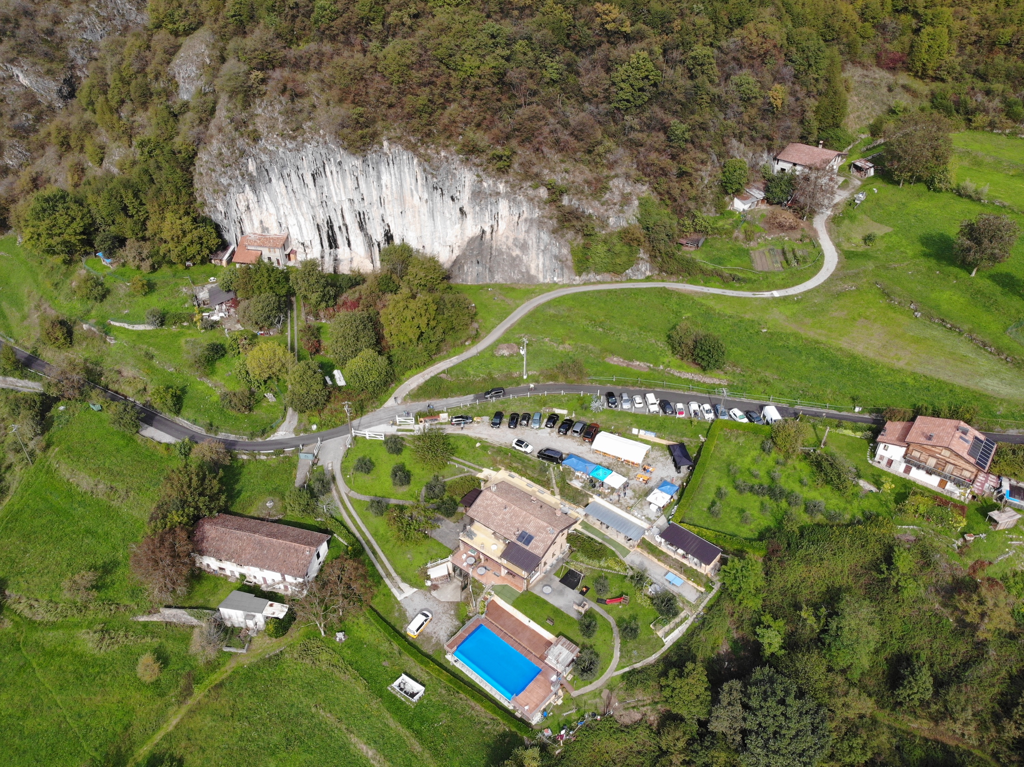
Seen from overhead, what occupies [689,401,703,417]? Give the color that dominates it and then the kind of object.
white car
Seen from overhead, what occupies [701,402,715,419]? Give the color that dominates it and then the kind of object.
white car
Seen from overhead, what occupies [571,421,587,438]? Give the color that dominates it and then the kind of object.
gray car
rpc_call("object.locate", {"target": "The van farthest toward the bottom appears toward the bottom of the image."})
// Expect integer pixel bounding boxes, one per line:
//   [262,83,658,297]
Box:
[403,611,432,640]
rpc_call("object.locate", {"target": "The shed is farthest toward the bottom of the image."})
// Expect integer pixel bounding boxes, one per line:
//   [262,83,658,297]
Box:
[545,636,578,674]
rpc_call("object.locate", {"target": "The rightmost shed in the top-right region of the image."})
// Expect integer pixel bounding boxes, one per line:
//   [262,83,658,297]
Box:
[851,158,877,180]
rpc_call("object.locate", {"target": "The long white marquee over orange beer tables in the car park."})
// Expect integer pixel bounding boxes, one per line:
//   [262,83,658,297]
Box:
[591,433,649,467]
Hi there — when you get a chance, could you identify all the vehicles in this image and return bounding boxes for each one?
[762,399,783,422]
[855,190,866,202]
[571,421,587,438]
[491,410,505,428]
[675,401,686,416]
[701,402,715,419]
[403,611,432,640]
[530,410,543,429]
[747,409,766,425]
[583,425,600,442]
[730,405,751,423]
[544,414,560,429]
[450,417,472,428]
[512,438,533,453]
[631,392,646,409]
[606,391,618,408]
[659,398,675,414]
[689,401,703,417]
[537,449,563,464]
[647,392,661,411]
[484,387,505,400]
[508,413,520,429]
[558,420,573,435]
[619,390,633,410]
[519,412,531,427]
